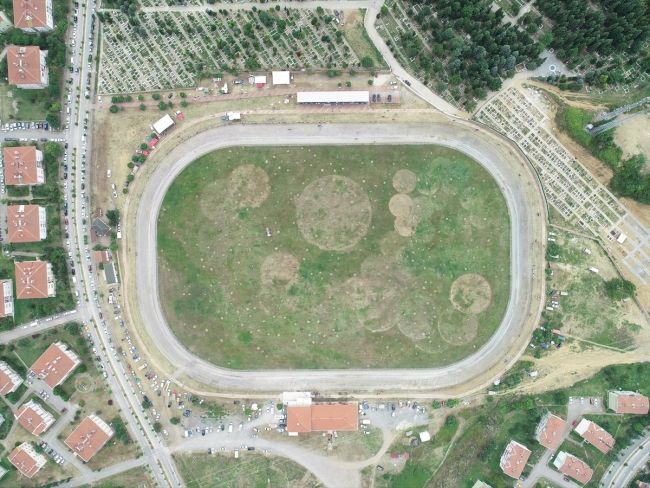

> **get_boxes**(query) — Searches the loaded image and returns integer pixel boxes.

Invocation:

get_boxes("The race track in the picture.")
[126,112,542,395]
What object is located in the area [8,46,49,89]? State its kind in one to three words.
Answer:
building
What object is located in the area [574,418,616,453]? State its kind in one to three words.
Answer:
building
